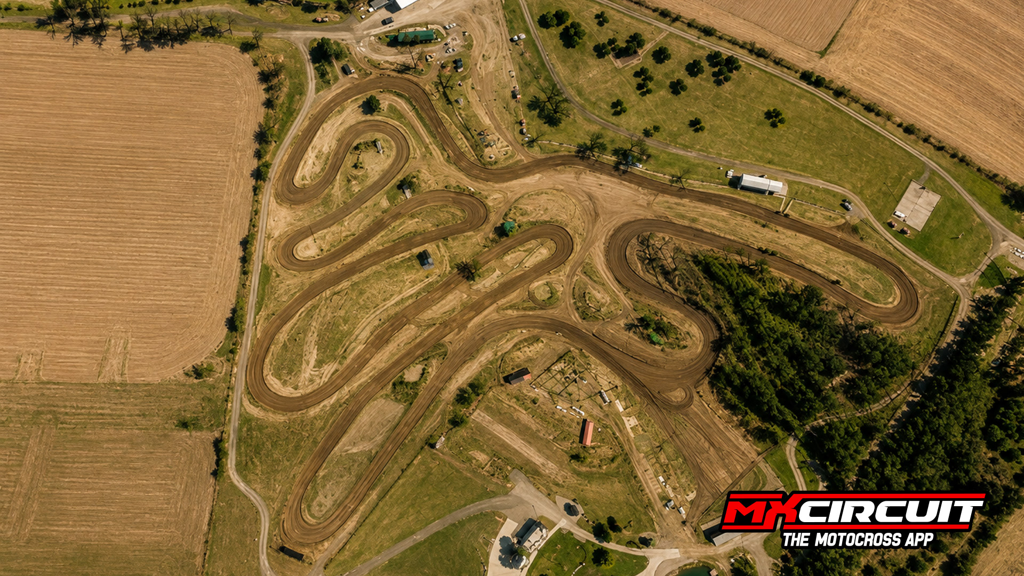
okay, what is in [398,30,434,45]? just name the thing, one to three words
building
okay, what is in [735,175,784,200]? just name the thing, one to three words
barn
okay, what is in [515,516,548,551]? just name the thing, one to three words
house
